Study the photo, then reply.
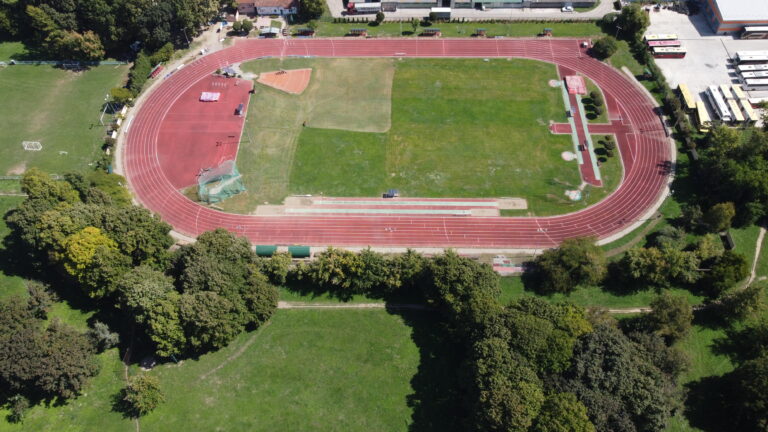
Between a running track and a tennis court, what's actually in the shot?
running track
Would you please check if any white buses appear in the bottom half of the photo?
No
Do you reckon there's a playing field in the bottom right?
No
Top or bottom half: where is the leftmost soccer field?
top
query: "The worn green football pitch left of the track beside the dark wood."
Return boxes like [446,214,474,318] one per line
[0,64,127,179]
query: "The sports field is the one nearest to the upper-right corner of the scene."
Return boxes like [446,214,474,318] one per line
[181,57,622,215]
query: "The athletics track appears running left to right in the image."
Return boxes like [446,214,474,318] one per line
[123,39,671,248]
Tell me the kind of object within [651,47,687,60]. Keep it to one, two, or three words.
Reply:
vehicle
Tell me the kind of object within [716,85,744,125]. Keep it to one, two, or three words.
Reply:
bus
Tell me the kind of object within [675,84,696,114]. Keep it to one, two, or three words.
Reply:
bus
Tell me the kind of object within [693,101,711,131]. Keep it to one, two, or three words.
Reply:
vehicle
